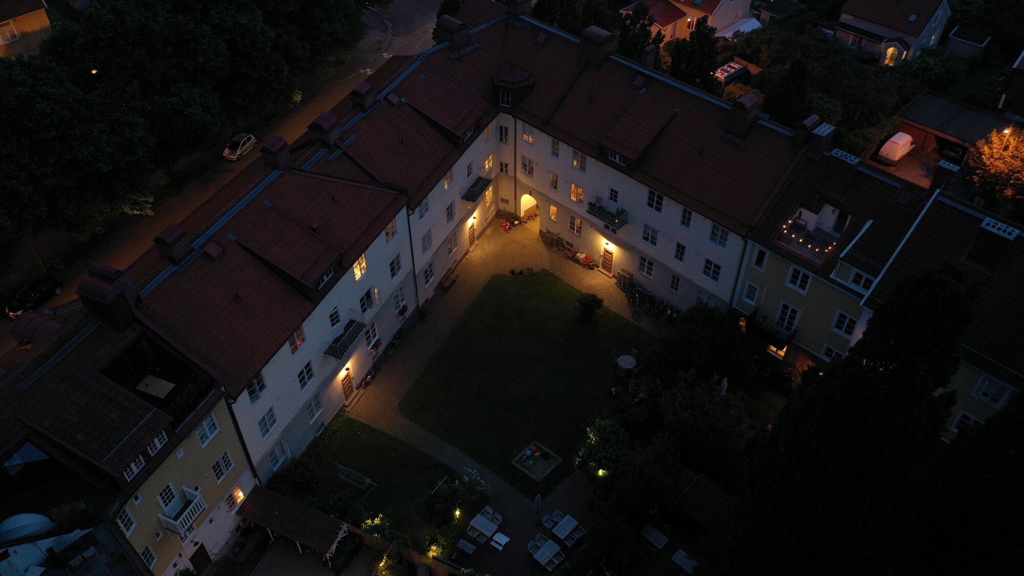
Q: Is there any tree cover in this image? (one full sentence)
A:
Yes, there's tree cover in this view.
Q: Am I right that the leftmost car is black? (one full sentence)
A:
Yes, the leftmost car is indeed black.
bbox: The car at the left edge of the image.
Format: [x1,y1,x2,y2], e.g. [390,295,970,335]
[3,269,63,312]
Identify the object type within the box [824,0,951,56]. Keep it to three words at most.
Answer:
house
